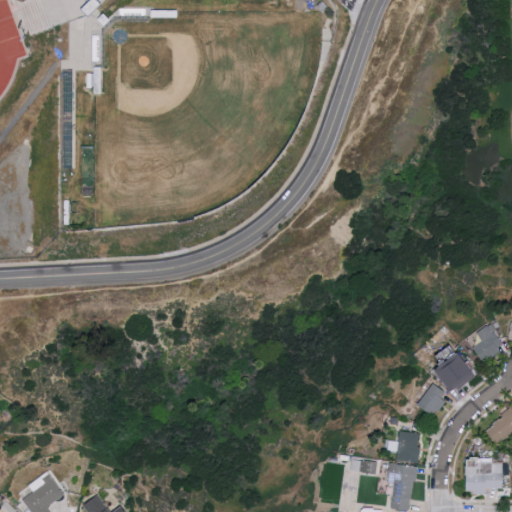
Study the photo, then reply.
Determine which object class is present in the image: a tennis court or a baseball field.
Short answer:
baseball field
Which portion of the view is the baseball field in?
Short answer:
top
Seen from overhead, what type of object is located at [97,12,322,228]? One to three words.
baseball field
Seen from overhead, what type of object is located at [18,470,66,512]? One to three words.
house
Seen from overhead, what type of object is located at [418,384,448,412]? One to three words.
house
